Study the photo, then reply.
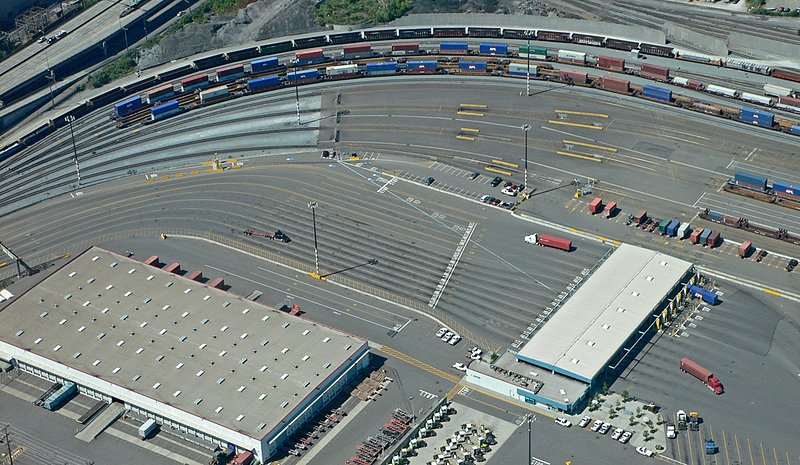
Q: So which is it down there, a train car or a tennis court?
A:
train car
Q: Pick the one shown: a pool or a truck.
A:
truck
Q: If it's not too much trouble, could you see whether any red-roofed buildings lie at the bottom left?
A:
No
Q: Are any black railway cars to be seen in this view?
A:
Yes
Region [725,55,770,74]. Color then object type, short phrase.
white rail car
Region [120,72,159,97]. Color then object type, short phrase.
black rail car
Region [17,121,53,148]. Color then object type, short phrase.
black rail car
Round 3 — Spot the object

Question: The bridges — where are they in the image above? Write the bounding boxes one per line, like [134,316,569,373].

[0,0,173,98]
